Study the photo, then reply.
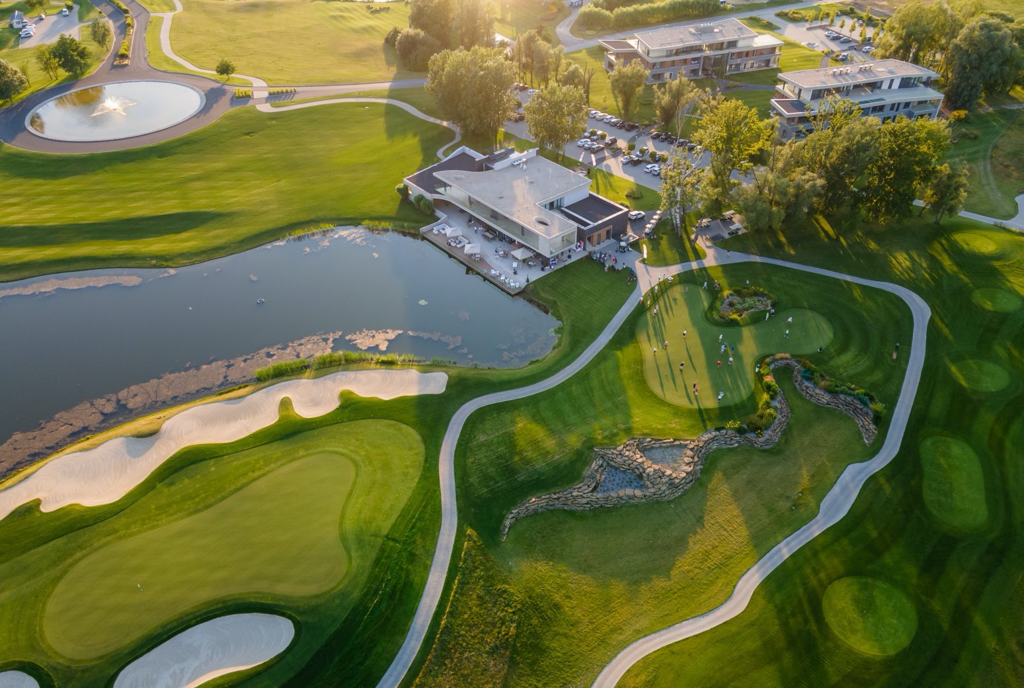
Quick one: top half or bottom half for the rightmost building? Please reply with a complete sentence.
You can find the rightmost building in the top half.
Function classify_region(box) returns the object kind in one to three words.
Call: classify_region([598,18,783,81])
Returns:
building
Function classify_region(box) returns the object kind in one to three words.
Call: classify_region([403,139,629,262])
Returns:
building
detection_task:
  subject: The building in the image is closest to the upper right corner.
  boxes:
[770,59,944,135]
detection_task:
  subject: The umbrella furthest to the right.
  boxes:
[510,248,533,263]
